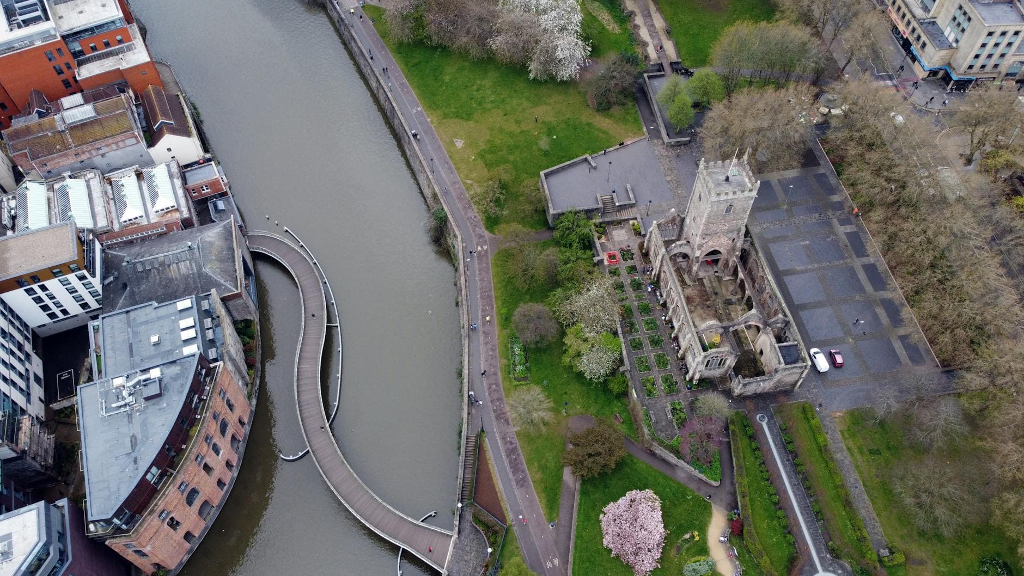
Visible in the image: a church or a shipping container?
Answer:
church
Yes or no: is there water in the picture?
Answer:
Yes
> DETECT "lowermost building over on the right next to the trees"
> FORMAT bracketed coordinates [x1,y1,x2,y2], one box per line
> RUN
[639,138,811,405]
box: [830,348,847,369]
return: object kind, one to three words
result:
car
